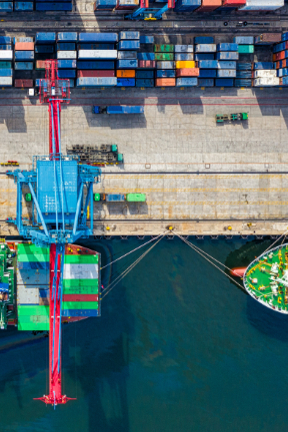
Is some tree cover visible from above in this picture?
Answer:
No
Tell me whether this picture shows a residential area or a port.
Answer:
port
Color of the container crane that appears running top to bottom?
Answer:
blue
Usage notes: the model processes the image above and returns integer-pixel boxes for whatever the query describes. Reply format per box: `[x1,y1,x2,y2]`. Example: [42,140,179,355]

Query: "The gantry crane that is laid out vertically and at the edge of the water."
[5,58,109,411]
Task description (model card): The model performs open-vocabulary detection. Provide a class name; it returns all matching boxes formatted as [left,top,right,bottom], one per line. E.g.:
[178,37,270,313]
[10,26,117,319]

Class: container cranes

[119,0,173,20]
[5,58,109,411]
